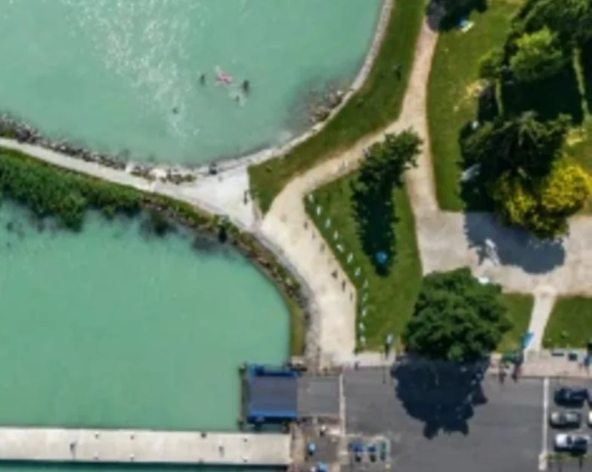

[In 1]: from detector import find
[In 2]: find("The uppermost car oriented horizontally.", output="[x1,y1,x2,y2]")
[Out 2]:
[552,387,588,405]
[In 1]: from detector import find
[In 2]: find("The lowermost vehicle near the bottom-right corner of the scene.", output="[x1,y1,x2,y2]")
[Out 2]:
[552,434,588,452]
